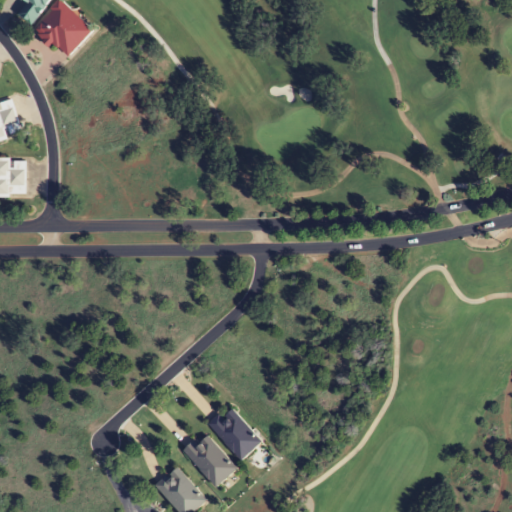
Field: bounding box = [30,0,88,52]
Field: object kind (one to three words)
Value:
house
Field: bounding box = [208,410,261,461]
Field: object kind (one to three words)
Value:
house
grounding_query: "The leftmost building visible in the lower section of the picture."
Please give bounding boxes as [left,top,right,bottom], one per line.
[154,470,207,512]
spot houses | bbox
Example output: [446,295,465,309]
[23,0,50,22]
[0,157,28,198]
[208,410,261,461]
[154,470,207,512]
[184,438,236,488]
[0,98,17,142]
[30,0,88,52]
